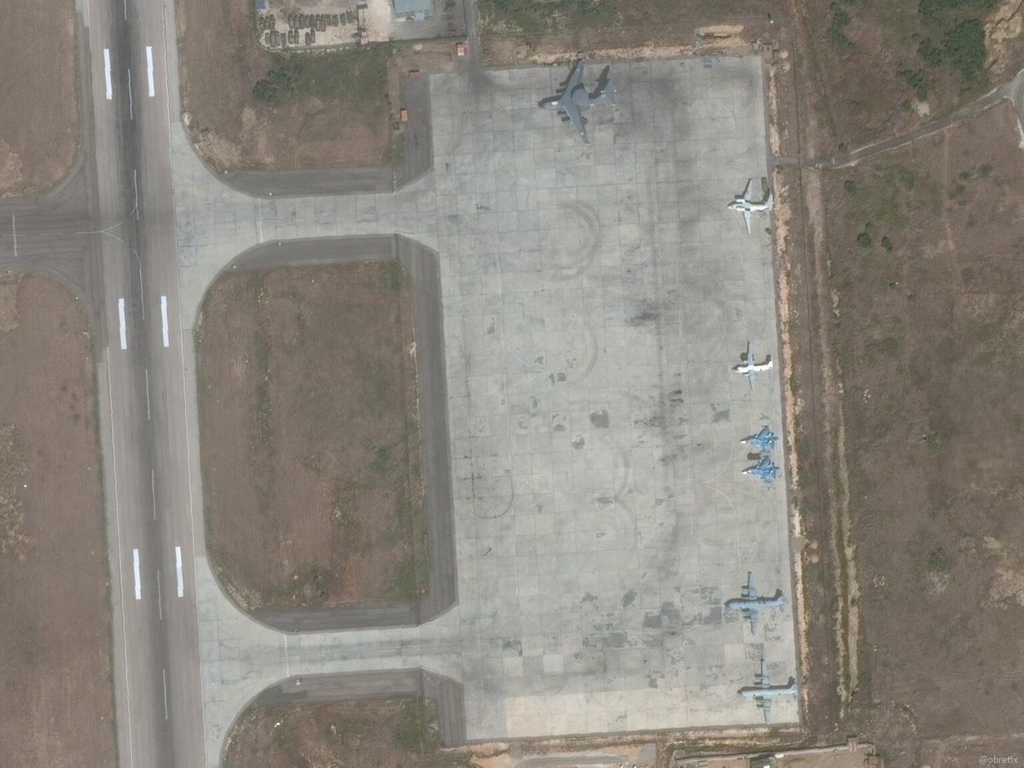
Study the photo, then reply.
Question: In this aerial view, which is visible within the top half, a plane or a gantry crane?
plane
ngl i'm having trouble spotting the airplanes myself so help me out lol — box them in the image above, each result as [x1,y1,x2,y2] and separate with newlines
[733,344,773,394]
[737,659,797,724]
[742,459,780,484]
[741,428,779,453]
[540,60,616,144]
[727,179,772,232]
[724,572,784,636]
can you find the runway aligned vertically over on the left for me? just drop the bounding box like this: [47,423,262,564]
[88,0,206,768]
